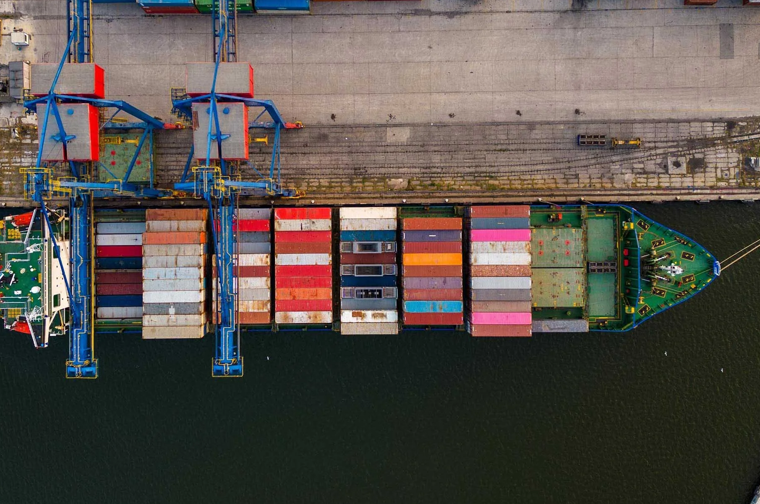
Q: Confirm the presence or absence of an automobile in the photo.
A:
No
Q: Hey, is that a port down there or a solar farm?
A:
port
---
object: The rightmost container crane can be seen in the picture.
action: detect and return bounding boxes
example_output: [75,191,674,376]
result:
[170,0,316,379]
